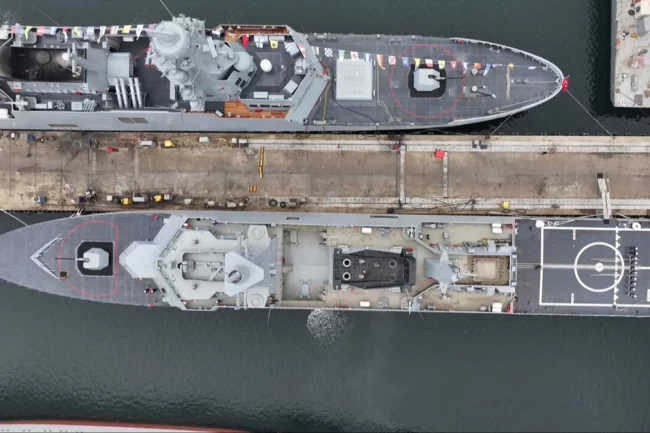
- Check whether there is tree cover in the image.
No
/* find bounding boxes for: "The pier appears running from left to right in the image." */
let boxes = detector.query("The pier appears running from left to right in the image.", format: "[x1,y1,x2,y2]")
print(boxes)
[0,131,650,217]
